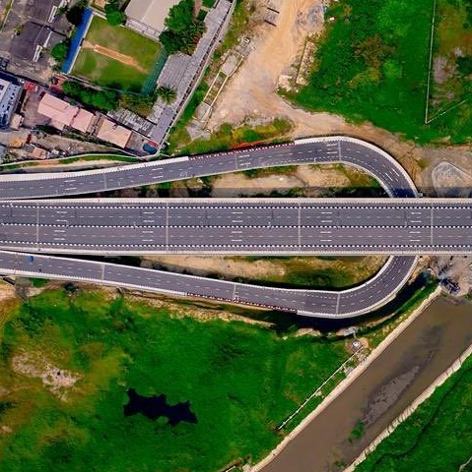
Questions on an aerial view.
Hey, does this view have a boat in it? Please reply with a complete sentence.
No, there appears to be no boat in this shot.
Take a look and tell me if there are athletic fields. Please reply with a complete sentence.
Yes, the photo shows an athletic field.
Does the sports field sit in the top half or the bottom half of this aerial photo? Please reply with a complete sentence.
It is in the top half that the sports field appears.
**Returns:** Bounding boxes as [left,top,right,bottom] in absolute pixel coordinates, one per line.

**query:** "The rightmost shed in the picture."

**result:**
[193,0,234,53]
